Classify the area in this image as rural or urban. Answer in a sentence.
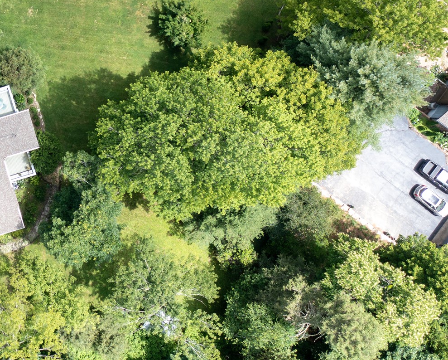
It looks rural.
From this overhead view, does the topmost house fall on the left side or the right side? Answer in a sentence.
You can find the topmost house on the right side of the picture.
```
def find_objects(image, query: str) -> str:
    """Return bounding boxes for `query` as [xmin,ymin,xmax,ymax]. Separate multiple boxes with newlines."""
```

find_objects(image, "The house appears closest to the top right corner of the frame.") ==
[418,87,448,134]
